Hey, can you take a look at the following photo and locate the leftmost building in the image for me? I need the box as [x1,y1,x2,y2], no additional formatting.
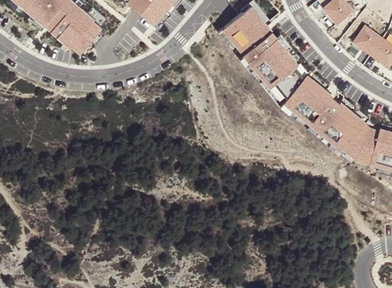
[6,0,106,54]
